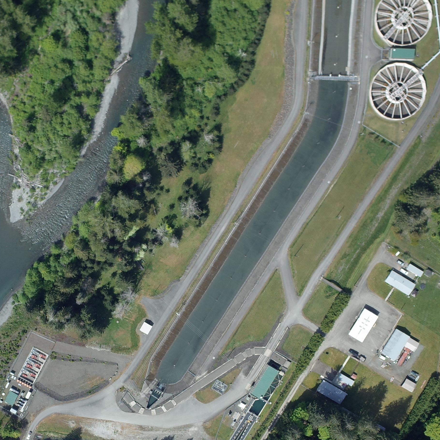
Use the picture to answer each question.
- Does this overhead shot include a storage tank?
Yes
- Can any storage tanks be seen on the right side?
Yes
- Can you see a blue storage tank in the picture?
No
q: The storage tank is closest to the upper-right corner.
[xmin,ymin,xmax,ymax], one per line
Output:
[374,0,432,46]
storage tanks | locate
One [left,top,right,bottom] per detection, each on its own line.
[368,63,427,122]
[374,0,432,46]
